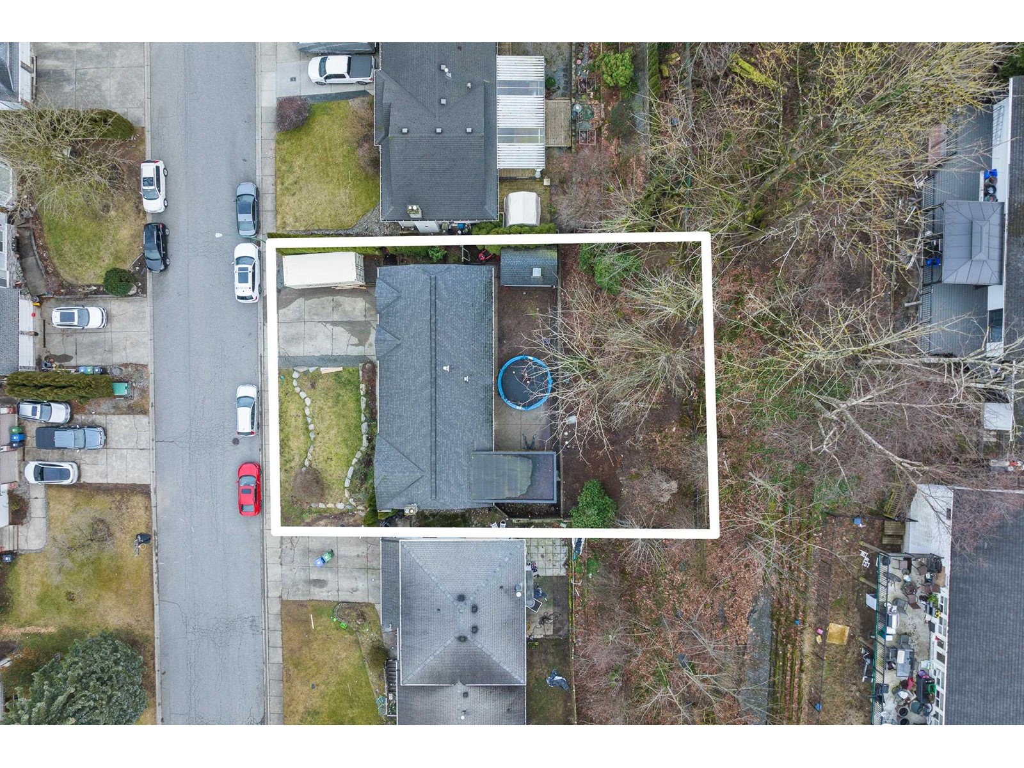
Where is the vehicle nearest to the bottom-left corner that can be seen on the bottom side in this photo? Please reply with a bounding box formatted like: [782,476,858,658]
[27,460,83,486]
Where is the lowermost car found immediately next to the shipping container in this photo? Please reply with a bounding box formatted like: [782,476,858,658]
[232,245,262,303]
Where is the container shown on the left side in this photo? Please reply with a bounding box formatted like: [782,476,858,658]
[283,252,363,289]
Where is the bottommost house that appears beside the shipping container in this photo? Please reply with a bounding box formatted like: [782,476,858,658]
[374,265,494,512]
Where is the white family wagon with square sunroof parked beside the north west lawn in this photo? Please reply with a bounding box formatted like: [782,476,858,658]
[138,161,169,214]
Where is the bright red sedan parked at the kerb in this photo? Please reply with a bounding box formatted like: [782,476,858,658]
[236,463,264,515]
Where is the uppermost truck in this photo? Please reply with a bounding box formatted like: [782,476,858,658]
[309,53,376,86]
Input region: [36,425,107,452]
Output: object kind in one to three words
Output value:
truck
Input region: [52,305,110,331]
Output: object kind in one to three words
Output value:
car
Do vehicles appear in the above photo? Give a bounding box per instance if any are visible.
[27,460,83,486]
[233,385,261,436]
[232,245,262,303]
[36,425,107,452]
[309,53,376,86]
[19,401,75,426]
[138,161,169,214]
[141,223,172,274]
[52,305,110,331]
[236,463,264,515]
[233,183,262,239]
